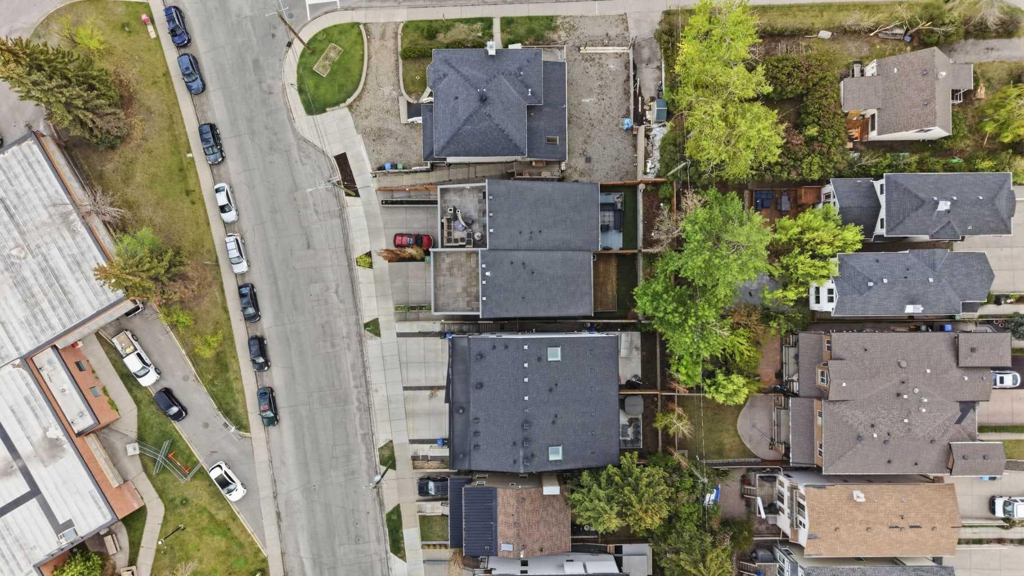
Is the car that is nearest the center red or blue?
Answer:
red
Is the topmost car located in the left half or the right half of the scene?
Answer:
left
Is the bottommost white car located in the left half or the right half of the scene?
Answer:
right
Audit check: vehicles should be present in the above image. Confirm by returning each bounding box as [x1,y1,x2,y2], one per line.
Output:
[163,4,195,49]
[209,460,245,501]
[988,497,1024,520]
[394,232,434,252]
[197,121,227,165]
[177,52,208,95]
[246,334,272,372]
[153,384,186,423]
[236,281,263,324]
[224,232,252,275]
[214,181,241,224]
[113,329,158,384]
[993,369,1021,390]
[417,477,448,500]
[256,384,281,427]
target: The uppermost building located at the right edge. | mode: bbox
[833,47,973,141]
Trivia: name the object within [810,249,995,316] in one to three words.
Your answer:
house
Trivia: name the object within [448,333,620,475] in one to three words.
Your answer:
house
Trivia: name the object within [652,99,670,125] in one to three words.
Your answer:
shed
